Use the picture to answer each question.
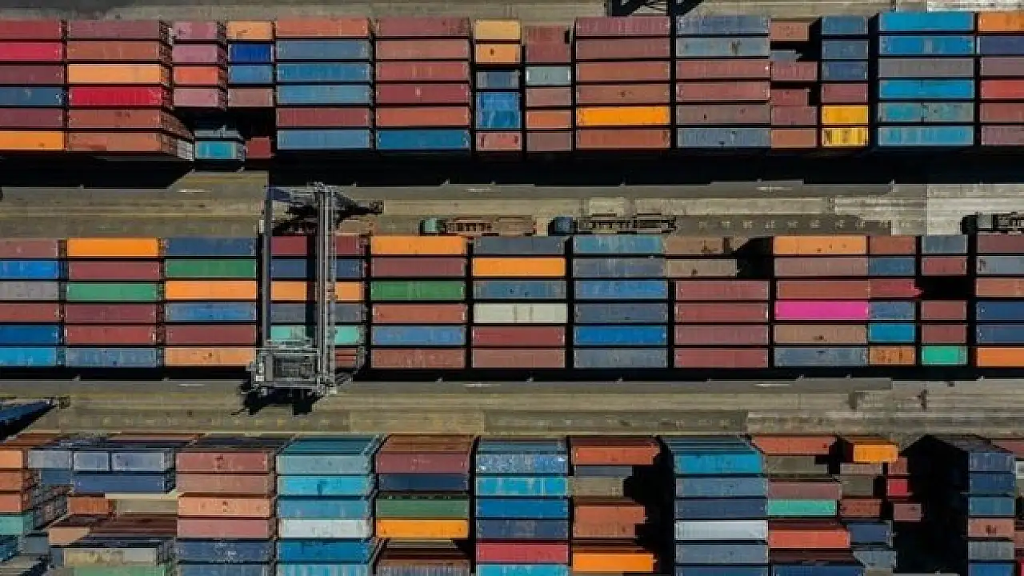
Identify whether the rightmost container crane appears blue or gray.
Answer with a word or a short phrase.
gray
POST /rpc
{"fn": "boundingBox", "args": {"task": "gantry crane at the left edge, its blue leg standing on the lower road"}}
[0,396,70,421]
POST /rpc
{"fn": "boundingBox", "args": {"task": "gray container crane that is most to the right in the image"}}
[252,183,386,399]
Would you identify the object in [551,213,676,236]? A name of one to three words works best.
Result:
truck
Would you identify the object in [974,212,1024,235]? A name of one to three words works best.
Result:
truck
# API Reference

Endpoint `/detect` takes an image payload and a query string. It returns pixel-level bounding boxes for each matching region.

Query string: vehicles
[422,214,536,236]
[974,212,1024,235]
[551,213,676,236]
